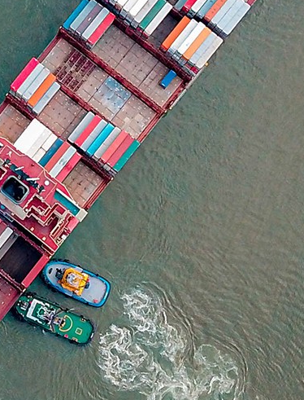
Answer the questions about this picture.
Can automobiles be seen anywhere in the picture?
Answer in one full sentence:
No, the photo shows no automobile.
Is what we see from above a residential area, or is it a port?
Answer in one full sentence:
The picture captures a port.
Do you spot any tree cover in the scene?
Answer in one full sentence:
No, no tree cover is visible.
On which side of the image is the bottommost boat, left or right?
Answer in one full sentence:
You can find the bottommost boat on the left side of the picture.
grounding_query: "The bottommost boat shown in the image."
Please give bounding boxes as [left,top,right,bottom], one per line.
[14,299,95,344]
